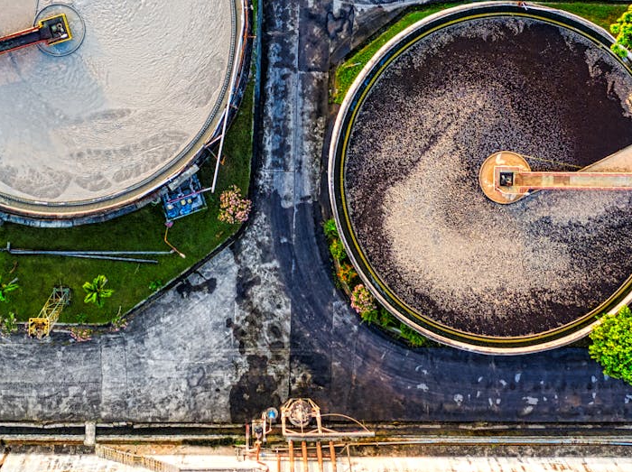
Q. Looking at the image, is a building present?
No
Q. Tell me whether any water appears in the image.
Yes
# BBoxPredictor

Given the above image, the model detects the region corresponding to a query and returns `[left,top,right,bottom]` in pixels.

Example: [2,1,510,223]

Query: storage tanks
[328,1,632,355]
[0,0,248,216]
